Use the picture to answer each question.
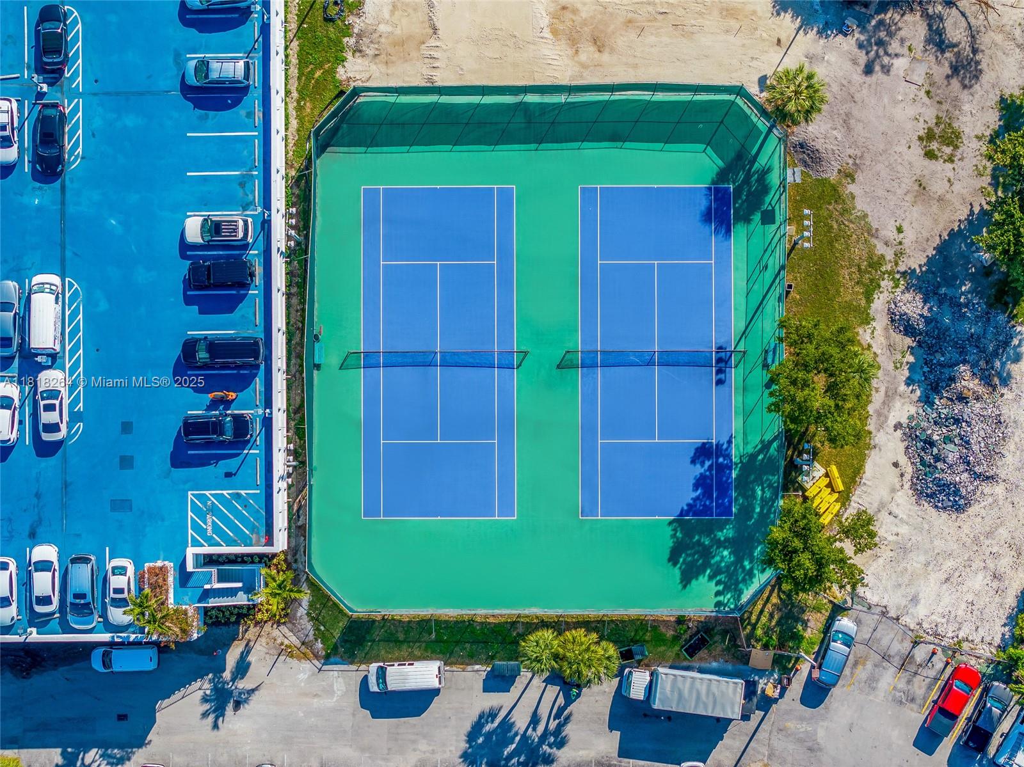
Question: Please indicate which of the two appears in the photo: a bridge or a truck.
truck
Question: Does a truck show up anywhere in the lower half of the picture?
Yes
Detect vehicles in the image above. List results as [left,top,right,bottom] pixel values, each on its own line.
[35,370,70,441]
[35,5,69,69]
[182,410,254,445]
[27,543,62,613]
[621,661,755,719]
[680,761,705,767]
[189,256,256,289]
[27,274,65,354]
[182,334,264,369]
[812,614,858,691]
[33,104,69,176]
[206,390,238,401]
[0,98,22,166]
[104,559,137,624]
[925,661,981,741]
[185,212,253,247]
[0,557,20,625]
[957,679,1012,759]
[185,55,252,89]
[369,660,444,694]
[91,643,158,675]
[0,280,23,357]
[0,381,23,446]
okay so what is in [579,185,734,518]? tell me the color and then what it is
blue tennis court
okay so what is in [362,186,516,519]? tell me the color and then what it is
blue tennis court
